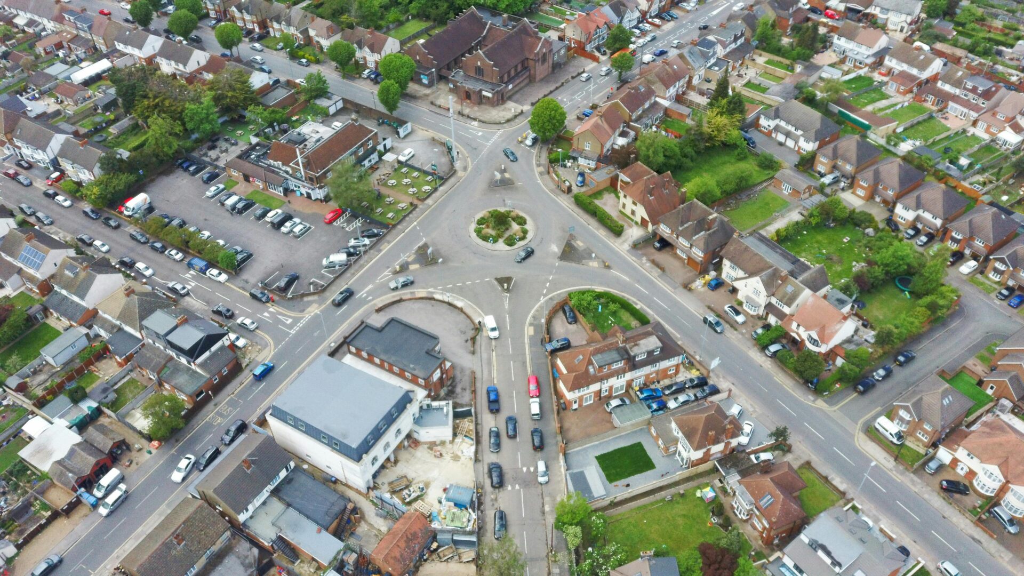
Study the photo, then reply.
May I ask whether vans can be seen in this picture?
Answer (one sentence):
Yes, the photo shows a van.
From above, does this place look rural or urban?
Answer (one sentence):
The land in this view is best described as urban.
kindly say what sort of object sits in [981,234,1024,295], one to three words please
house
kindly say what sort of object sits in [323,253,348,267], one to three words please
vehicle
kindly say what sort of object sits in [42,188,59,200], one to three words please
vehicle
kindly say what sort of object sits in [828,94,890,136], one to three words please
building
